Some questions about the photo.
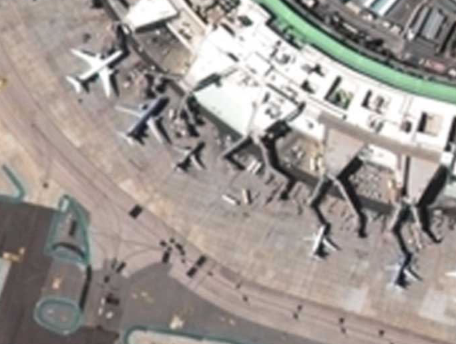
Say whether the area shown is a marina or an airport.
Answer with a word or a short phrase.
airport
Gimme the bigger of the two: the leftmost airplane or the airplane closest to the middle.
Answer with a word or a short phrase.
the leftmost airplane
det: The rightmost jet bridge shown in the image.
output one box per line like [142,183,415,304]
[411,206,433,243]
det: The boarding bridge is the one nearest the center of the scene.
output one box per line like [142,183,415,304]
[221,134,253,173]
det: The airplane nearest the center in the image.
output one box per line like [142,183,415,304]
[172,144,203,173]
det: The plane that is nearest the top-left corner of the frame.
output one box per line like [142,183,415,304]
[64,49,120,98]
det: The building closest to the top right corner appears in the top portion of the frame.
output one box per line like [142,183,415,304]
[403,6,454,59]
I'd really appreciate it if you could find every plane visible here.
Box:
[172,144,203,173]
[118,97,168,144]
[301,228,335,260]
[64,49,120,98]
[384,257,417,290]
